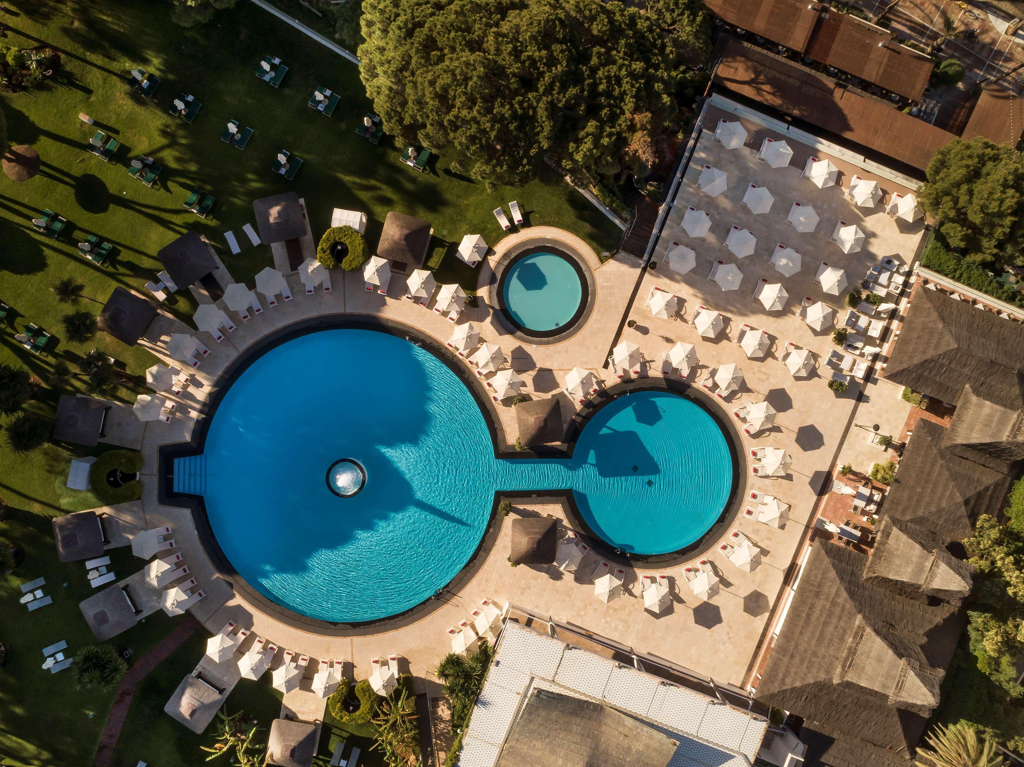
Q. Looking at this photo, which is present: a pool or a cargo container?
pool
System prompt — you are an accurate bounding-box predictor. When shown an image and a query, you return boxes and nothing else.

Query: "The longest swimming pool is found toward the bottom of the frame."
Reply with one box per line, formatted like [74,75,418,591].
[173,329,734,623]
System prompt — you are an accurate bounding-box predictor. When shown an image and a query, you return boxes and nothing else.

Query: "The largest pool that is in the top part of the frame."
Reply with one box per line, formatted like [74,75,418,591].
[503,252,582,331]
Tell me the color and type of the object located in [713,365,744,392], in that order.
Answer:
white umbrella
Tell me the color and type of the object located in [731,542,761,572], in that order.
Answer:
white umbrella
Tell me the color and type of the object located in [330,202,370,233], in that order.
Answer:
white tent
